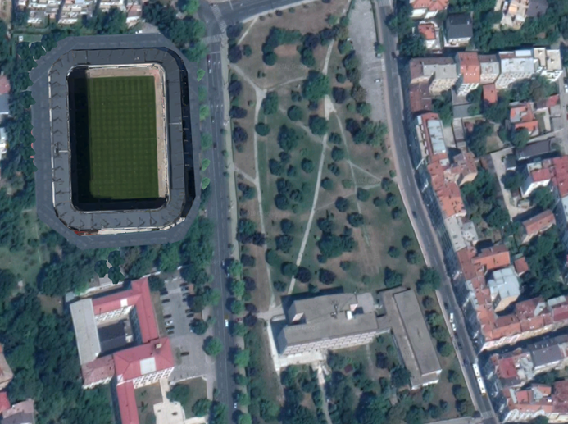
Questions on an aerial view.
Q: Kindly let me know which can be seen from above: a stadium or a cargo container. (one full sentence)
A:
Visible in the photo is a stadium.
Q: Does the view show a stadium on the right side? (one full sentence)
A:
No, no stadium can be made out on the right side.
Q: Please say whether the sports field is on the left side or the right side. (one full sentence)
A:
The sports field is on the left side of the image.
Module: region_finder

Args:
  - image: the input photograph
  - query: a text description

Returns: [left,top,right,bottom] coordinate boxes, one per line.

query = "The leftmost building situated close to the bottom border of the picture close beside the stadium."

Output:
[69,279,174,424]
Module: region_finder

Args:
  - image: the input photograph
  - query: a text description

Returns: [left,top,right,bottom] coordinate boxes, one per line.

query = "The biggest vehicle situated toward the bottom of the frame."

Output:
[474,365,486,392]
